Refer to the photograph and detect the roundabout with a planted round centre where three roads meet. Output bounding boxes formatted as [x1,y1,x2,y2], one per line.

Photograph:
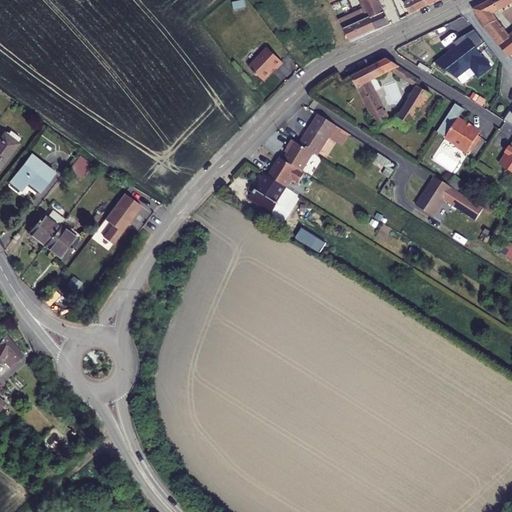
[56,322,140,407]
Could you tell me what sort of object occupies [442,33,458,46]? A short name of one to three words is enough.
vehicle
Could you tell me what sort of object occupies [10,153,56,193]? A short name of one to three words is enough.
building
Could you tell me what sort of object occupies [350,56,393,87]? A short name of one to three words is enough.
house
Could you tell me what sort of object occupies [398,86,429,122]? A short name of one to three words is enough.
barn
